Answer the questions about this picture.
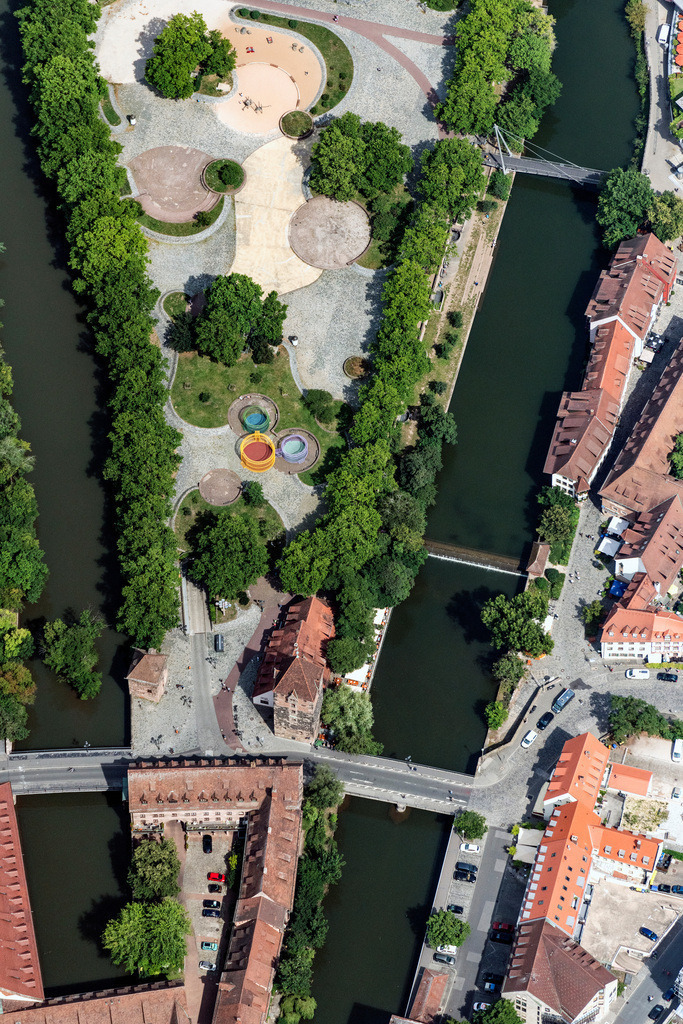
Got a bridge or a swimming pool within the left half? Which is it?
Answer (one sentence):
There is a bridge within the left half.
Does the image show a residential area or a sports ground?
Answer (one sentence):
The picture captures a residential area.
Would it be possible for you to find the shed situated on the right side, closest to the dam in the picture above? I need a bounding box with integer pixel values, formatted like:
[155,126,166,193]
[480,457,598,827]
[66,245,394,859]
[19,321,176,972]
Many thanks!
[526,543,551,586]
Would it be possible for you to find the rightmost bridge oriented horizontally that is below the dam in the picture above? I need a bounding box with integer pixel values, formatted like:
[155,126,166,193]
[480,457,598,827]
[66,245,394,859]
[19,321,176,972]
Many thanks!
[310,746,475,817]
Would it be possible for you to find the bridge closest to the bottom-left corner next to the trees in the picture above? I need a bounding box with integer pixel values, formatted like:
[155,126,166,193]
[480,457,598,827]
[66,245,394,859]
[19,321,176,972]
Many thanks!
[0,747,131,799]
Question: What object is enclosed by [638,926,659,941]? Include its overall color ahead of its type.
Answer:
blue car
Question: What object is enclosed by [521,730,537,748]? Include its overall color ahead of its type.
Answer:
white car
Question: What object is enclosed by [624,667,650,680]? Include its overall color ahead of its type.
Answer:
white vehicle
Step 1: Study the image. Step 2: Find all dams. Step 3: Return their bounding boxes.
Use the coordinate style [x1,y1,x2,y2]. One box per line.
[428,539,529,577]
